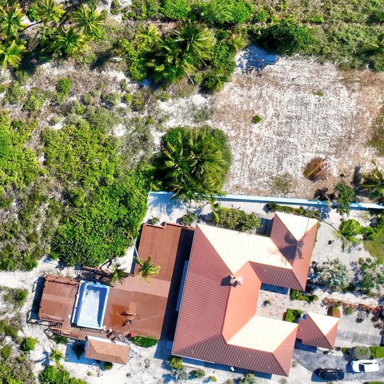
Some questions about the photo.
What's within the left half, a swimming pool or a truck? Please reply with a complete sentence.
It is a swimming pool that can be seen within the left half.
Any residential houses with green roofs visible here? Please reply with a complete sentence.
No, I can see no residential house with a green roof in this picture.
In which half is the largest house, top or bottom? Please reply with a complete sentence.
The bottom half of the photo is where the largest house is.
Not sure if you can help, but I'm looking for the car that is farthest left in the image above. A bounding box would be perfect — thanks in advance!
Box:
[320,369,347,384]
